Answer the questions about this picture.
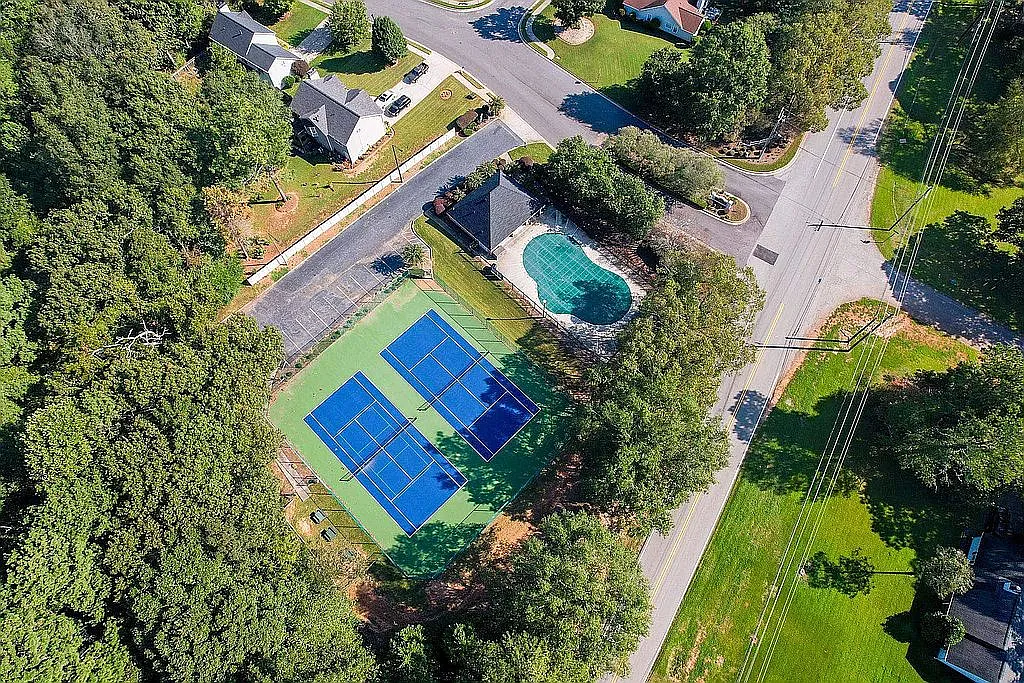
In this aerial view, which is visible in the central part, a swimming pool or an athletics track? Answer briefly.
swimming pool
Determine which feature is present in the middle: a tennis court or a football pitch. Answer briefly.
tennis court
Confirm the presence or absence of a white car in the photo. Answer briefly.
Yes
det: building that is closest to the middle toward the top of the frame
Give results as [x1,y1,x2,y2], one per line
[445,168,546,256]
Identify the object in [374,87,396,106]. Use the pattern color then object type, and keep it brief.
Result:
white car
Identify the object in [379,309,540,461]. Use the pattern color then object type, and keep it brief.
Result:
blue tennis court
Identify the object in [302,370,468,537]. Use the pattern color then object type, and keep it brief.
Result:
blue tennis court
